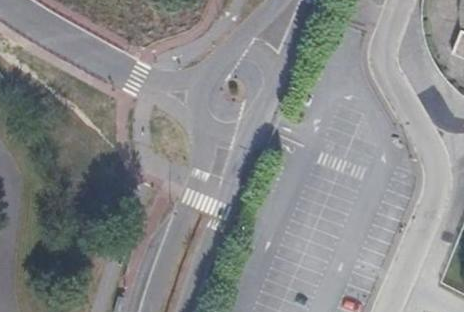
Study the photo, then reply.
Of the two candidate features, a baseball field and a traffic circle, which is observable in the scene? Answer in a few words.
traffic circle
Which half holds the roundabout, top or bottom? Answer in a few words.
top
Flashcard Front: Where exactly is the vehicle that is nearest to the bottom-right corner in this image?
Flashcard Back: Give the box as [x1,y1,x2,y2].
[342,298,363,312]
